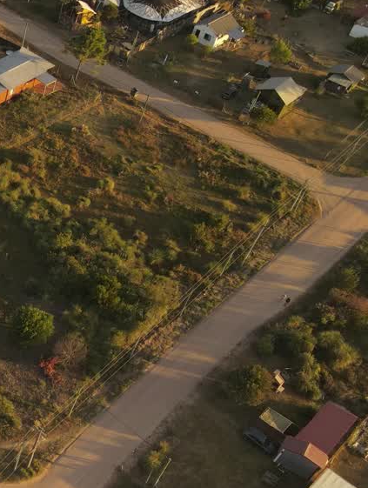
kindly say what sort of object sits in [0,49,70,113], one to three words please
house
